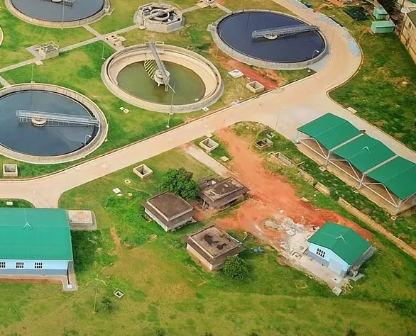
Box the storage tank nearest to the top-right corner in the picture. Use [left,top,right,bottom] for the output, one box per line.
[202,3,327,67]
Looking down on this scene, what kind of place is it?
industrial area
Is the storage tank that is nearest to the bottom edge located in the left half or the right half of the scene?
left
